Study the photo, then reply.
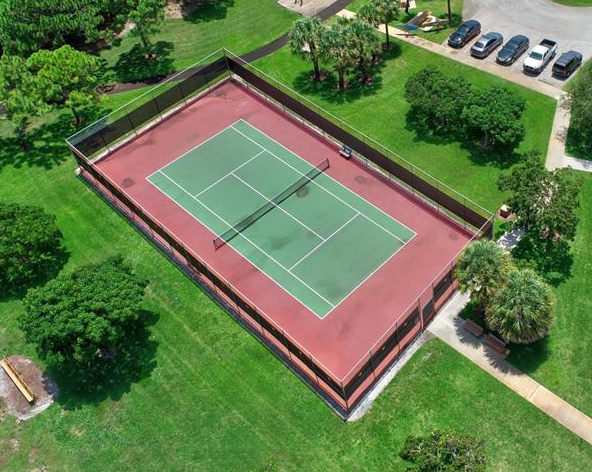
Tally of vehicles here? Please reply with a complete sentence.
My tally gives 5 vehicles in this view.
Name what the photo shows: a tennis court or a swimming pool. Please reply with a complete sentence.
The one in the frame is a tennis court.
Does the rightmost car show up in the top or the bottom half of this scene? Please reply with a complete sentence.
The rightmost car sits in the top half of the picture.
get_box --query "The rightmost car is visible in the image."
[550,53,584,83]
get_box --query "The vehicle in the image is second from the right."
[522,40,560,78]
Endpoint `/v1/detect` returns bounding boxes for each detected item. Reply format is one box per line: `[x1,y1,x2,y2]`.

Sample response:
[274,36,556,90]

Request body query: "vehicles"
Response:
[497,37,530,67]
[522,40,560,78]
[550,53,584,83]
[470,35,504,63]
[449,21,480,49]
